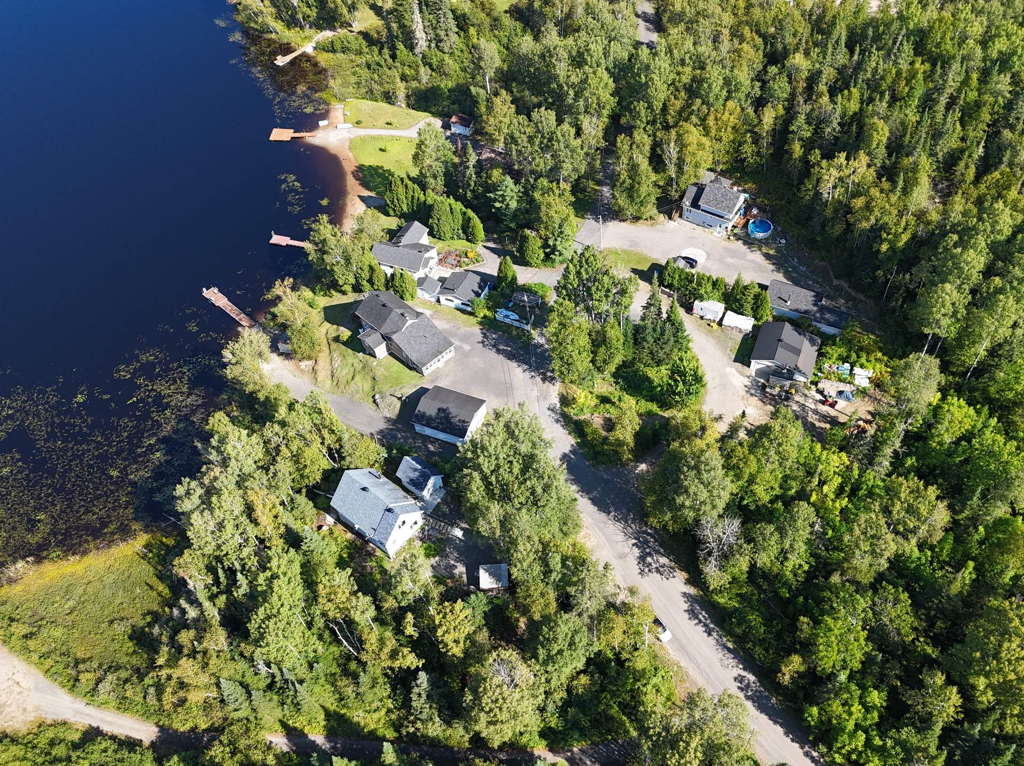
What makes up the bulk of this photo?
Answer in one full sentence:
The scene is dominated by trees.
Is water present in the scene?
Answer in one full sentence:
Yes, some water is visible.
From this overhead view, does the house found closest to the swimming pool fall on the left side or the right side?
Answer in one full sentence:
The house found closest to the swimming pool sits on the right side.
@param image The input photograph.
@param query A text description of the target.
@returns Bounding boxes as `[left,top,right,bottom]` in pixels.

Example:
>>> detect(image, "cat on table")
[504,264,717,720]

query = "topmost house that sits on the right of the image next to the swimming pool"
[683,183,747,237]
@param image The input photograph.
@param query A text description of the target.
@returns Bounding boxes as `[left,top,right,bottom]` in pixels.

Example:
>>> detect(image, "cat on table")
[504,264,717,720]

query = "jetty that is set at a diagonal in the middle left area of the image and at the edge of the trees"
[199,285,260,330]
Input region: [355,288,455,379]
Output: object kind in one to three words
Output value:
house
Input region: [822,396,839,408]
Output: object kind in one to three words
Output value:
vehicle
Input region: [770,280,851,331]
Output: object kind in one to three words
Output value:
building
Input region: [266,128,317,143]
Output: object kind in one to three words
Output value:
pier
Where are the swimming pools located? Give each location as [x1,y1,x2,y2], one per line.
[747,216,773,238]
